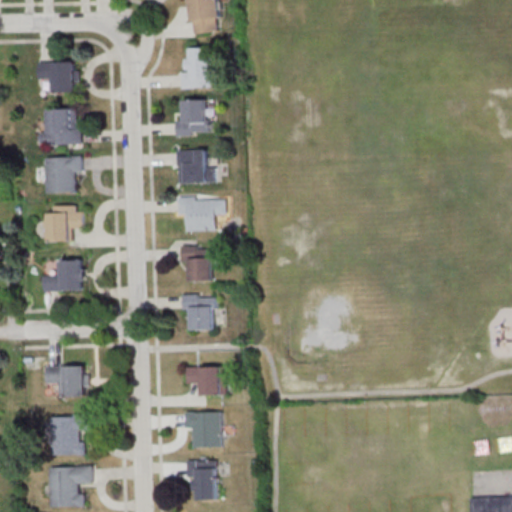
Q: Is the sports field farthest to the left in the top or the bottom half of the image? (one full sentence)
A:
Seen from above, the sports field farthest to the left lies in the bottom half of the view.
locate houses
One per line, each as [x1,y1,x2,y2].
[49,467,94,508]
[185,367,226,396]
[38,108,81,144]
[44,367,88,397]
[42,204,86,242]
[182,295,218,332]
[180,47,211,90]
[176,100,212,136]
[185,412,225,448]
[178,197,227,232]
[188,0,222,34]
[36,60,78,91]
[50,418,84,456]
[188,460,220,501]
[178,150,218,183]
[182,246,213,280]
[44,156,84,193]
[42,261,84,292]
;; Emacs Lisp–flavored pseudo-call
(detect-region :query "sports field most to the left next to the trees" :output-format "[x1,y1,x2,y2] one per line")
[281,404,466,512]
